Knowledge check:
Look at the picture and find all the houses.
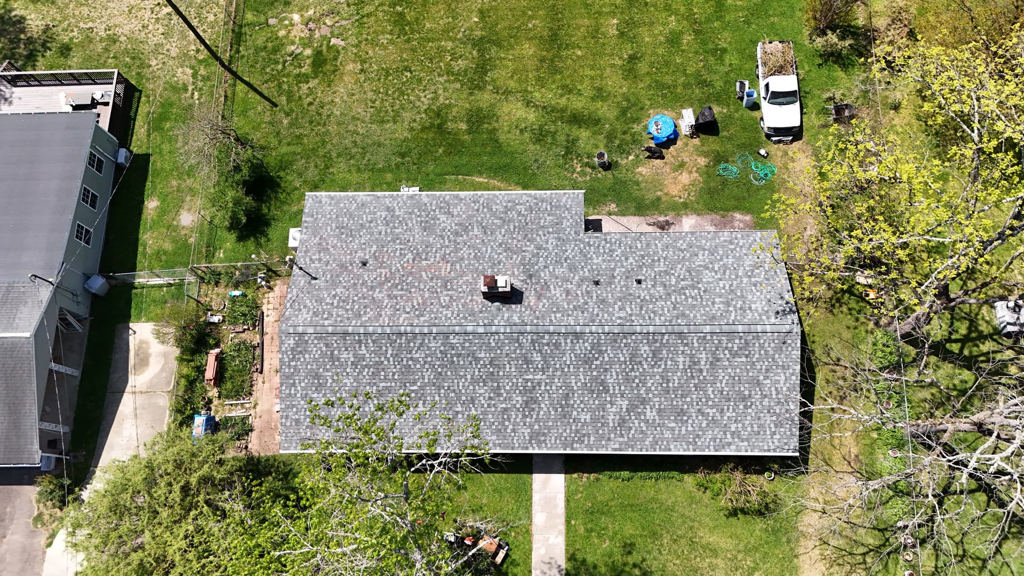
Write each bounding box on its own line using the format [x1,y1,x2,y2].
[0,111,117,466]
[277,192,802,456]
